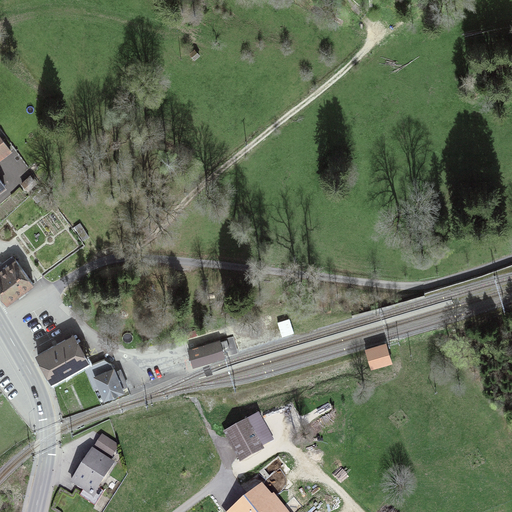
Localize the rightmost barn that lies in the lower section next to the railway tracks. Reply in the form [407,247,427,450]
[366,344,392,370]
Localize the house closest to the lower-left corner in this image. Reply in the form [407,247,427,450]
[72,446,114,496]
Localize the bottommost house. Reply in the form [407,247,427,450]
[228,482,290,512]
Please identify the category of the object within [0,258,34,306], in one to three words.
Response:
house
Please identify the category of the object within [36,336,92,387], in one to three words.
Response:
house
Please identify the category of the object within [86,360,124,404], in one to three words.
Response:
building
